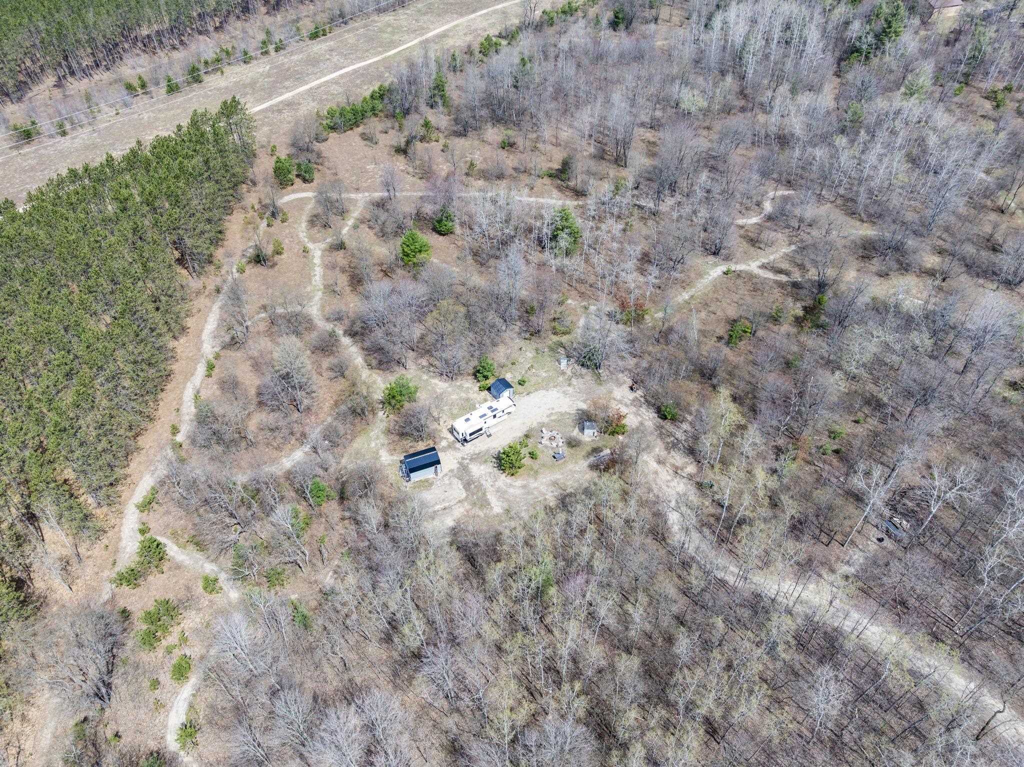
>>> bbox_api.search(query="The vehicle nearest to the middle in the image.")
[452,395,521,446]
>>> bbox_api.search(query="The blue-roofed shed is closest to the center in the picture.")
[490,377,514,400]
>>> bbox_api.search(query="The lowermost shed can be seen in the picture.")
[403,447,441,481]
